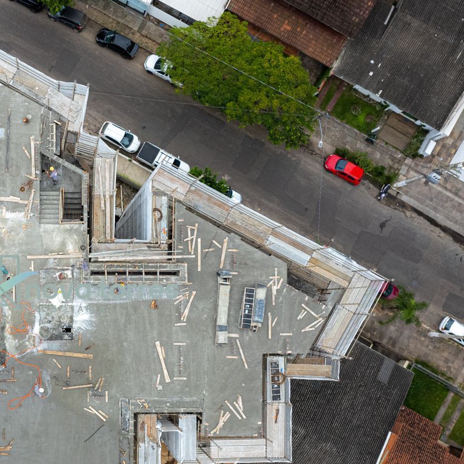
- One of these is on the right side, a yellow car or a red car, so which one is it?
red car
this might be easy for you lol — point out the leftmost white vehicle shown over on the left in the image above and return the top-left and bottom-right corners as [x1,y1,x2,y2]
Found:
[96,117,142,153]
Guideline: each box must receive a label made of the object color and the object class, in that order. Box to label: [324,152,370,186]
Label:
red car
